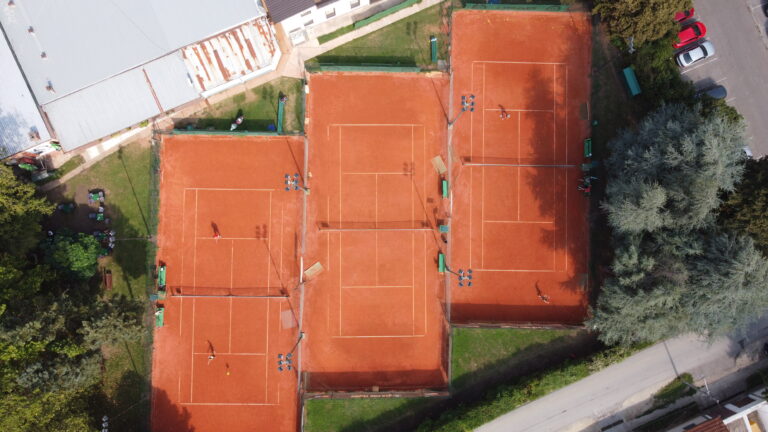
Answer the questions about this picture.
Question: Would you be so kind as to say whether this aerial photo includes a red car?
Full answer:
Yes, a red car is visible in the scene.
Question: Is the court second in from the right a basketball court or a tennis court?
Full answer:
Specifically, the court second in from the right is a tennis court.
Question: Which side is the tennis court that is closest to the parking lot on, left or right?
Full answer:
You can find the tennis court that is closest to the parking lot on the right side of the picture.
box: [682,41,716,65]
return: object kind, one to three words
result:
car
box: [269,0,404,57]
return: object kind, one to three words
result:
house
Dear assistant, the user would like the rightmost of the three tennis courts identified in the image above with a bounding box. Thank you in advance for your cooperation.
[450,10,592,323]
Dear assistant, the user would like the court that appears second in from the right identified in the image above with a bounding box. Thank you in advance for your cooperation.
[304,72,448,388]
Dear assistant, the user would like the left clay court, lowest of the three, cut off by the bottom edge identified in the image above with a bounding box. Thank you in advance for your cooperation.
[152,134,304,432]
